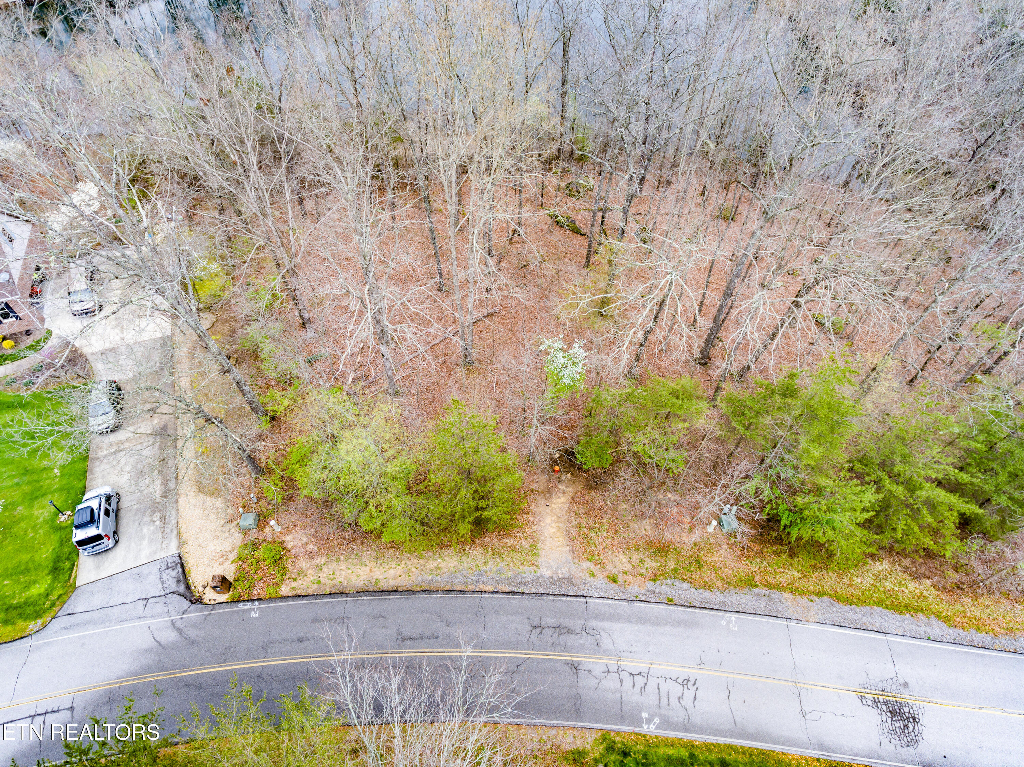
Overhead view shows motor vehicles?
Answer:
Yes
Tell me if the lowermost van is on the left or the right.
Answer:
left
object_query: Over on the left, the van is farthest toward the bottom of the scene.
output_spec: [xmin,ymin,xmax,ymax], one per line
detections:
[71,484,118,563]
